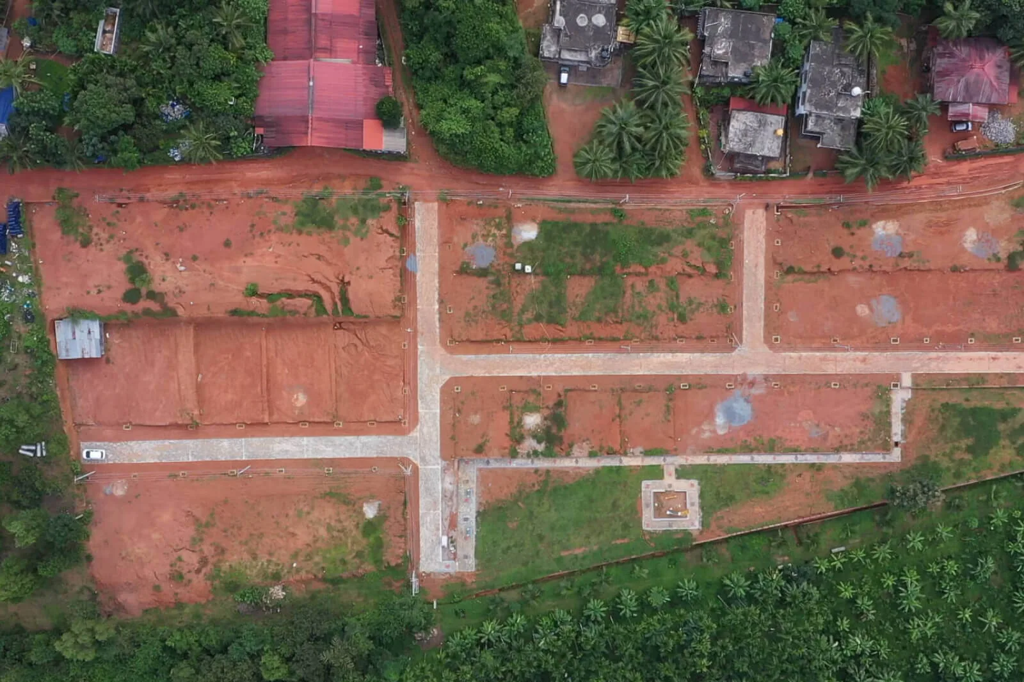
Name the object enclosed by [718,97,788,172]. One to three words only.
house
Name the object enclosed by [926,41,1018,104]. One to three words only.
house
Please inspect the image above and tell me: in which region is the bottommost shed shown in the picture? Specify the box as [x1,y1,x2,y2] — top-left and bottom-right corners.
[55,318,105,359]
